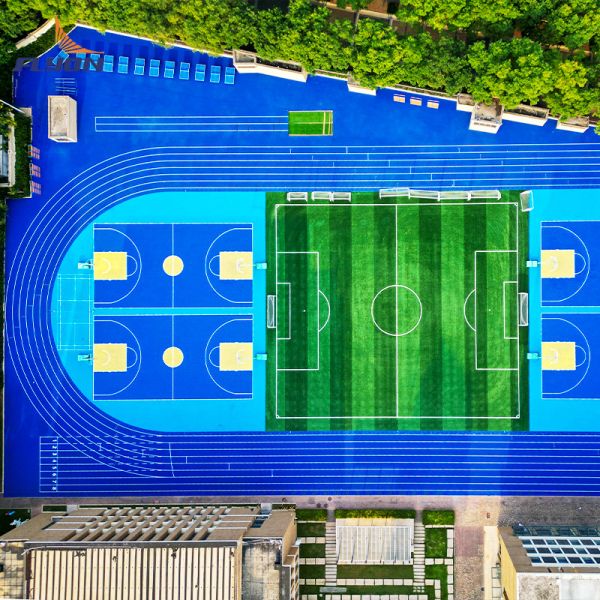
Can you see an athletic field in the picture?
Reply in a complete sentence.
Yes, the picture does show an athletic field.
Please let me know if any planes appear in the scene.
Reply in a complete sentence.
No, there's no plane here.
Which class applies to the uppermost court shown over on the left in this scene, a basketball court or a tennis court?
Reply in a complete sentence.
The uppermost court shown over on the left appears to be a basketball court.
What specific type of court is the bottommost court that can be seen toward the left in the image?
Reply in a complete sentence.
I'd say the bottommost court that can be seen toward the left is a basketball court.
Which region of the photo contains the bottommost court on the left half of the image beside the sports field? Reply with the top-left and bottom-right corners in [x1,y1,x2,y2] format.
[94,314,253,400]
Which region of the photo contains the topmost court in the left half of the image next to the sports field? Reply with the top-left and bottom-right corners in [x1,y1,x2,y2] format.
[94,222,253,308]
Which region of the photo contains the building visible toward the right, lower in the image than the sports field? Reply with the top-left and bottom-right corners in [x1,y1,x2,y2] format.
[497,522,600,600]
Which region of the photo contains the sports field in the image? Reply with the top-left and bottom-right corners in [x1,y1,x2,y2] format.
[265,190,530,431]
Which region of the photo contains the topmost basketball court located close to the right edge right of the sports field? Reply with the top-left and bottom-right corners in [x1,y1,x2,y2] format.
[541,220,600,306]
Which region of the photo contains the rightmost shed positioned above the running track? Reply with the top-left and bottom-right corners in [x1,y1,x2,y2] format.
[557,110,594,132]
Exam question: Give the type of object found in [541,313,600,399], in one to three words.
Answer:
basketball court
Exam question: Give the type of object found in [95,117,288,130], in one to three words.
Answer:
runway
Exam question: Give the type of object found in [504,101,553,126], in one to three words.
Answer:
shed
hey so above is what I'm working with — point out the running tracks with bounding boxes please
[6,144,600,491]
